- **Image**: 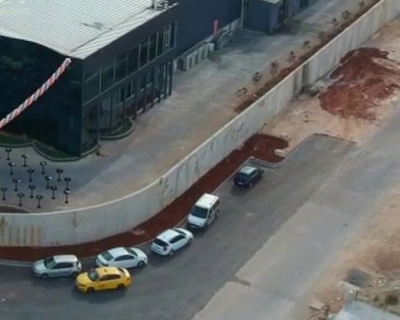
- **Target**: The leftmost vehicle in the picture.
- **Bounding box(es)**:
[33,255,82,279]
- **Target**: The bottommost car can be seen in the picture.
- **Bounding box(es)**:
[76,267,132,293]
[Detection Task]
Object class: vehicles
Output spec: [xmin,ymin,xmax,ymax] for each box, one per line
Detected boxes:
[230,166,268,189]
[96,248,149,270]
[33,255,82,279]
[76,267,132,293]
[147,225,197,255]
[185,192,225,227]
